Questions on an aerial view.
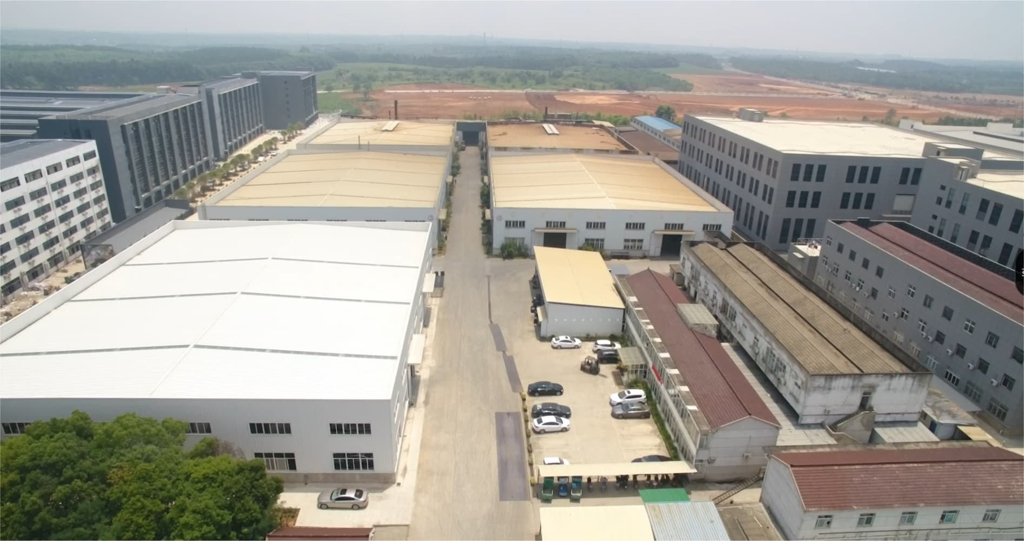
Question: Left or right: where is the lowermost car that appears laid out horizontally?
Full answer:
It is on the left.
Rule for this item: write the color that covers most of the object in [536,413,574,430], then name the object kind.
white car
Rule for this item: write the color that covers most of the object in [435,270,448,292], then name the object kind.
gray vehicle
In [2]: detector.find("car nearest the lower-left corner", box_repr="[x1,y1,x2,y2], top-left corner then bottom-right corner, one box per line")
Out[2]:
[316,492,368,515]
